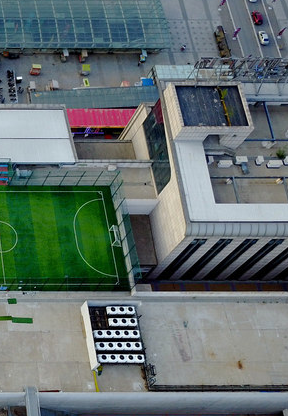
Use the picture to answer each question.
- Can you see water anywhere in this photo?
No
